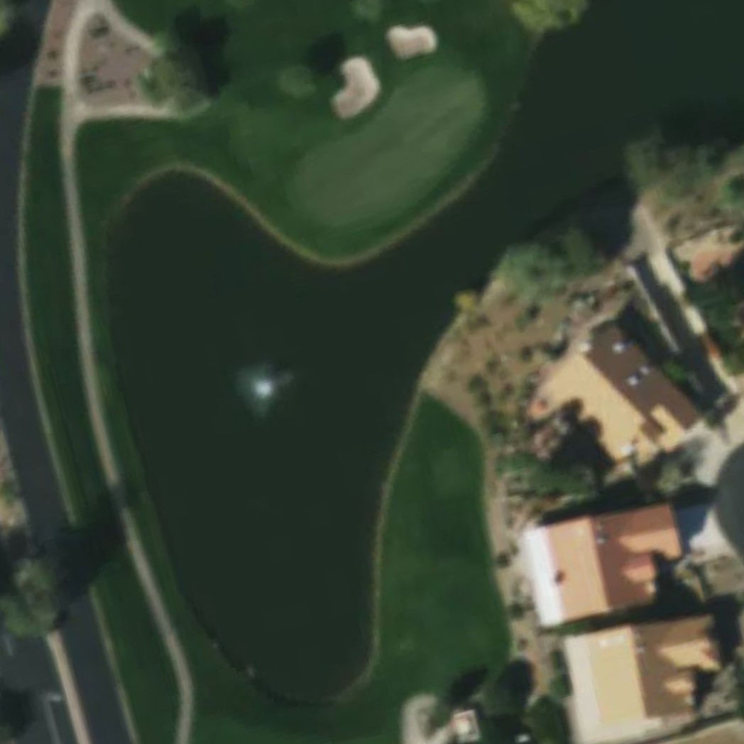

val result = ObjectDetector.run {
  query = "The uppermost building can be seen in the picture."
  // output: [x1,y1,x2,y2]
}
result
[538,320,702,466]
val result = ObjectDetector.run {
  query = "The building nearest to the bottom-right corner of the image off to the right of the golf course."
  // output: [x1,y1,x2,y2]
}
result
[564,616,722,744]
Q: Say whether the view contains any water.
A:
Yes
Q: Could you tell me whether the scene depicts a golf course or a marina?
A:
golf course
